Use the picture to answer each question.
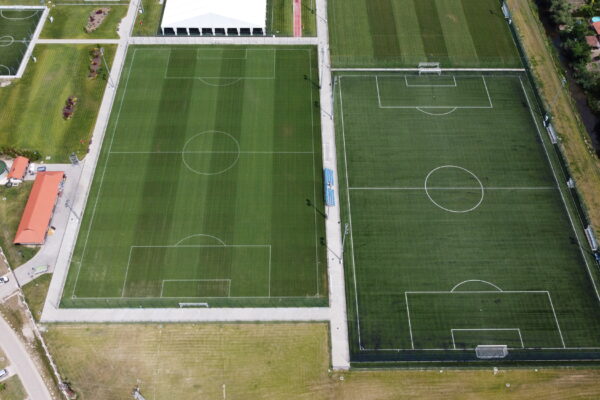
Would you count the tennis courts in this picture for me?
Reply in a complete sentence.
There are no tennis courts in the image.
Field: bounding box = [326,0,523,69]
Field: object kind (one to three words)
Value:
sports field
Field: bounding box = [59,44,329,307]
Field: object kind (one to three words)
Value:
sports field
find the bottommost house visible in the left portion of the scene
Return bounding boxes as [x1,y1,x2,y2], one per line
[12,171,66,248]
